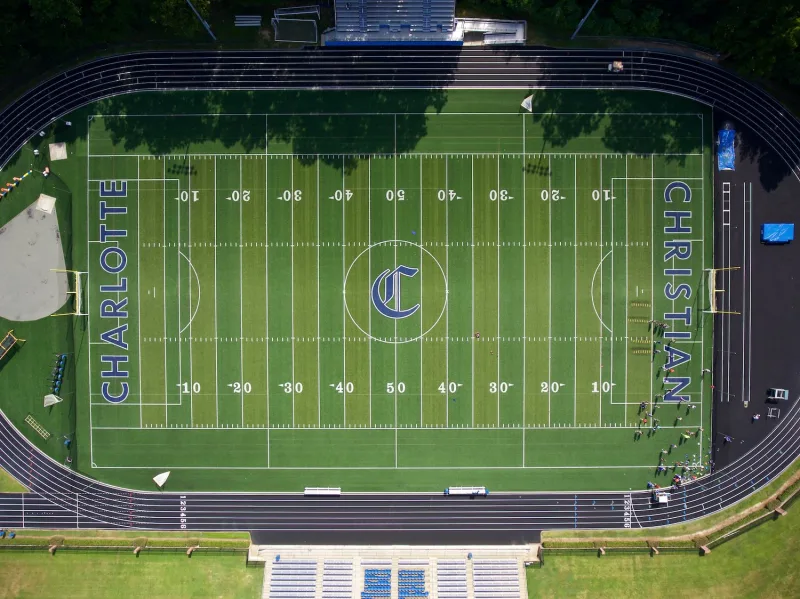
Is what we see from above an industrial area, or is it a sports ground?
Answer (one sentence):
This image shows a sports ground.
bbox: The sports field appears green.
[88,114,704,468]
